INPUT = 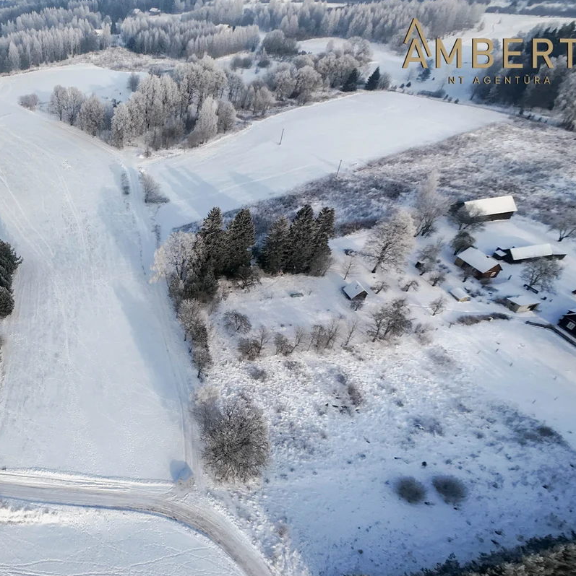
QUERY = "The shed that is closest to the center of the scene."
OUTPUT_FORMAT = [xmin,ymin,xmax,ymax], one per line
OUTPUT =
[340,285,372,308]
